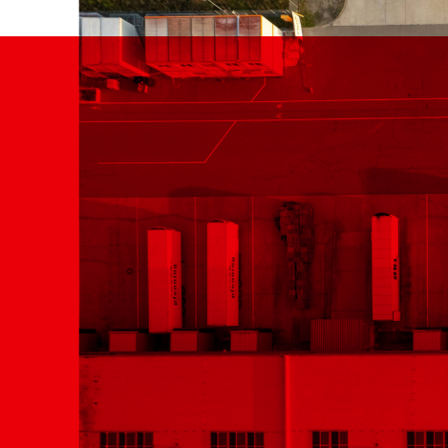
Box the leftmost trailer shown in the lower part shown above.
[147,227,185,332]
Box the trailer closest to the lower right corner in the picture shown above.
[371,212,402,321]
